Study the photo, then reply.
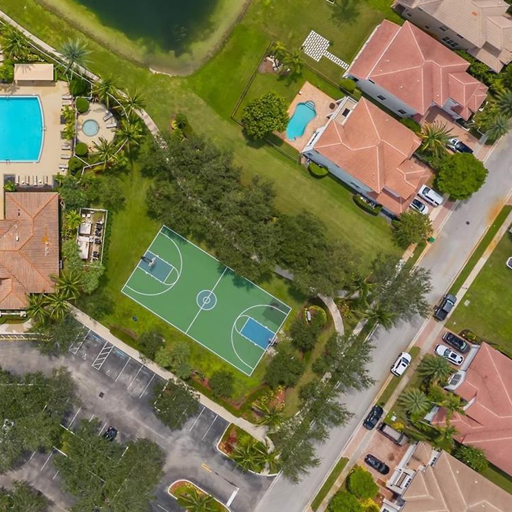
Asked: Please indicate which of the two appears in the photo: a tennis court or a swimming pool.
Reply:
swimming pool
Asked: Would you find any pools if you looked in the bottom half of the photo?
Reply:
No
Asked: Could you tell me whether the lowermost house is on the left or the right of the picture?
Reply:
right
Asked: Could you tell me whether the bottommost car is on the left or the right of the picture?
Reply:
right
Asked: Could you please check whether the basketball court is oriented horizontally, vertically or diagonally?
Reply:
diagonally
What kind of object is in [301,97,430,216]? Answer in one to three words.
house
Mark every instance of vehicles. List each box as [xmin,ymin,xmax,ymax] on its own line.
[447,137,473,154]
[364,453,389,475]
[443,331,466,349]
[407,196,431,216]
[364,403,385,431]
[378,423,406,444]
[101,422,119,444]
[390,352,412,379]
[436,345,458,361]
[433,291,457,323]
